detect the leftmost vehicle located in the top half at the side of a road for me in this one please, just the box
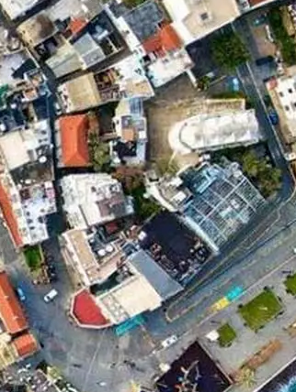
[229,72,243,91]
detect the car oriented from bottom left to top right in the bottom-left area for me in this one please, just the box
[42,287,59,303]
